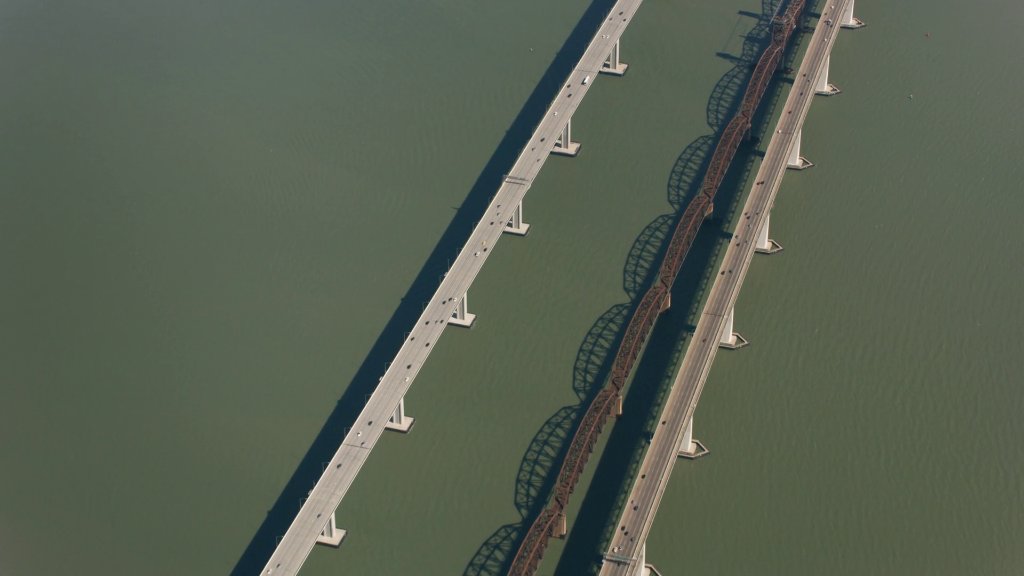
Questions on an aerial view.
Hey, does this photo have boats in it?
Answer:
No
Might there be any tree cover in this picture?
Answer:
No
